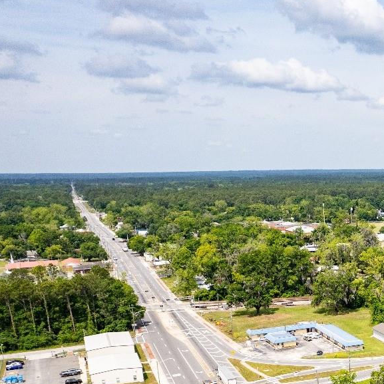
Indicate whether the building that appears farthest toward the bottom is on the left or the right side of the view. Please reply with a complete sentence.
The building that appears farthest toward the bottom is on the left side of the image.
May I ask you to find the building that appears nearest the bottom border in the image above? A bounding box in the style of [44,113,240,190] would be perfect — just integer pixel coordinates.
[88,355,148,384]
